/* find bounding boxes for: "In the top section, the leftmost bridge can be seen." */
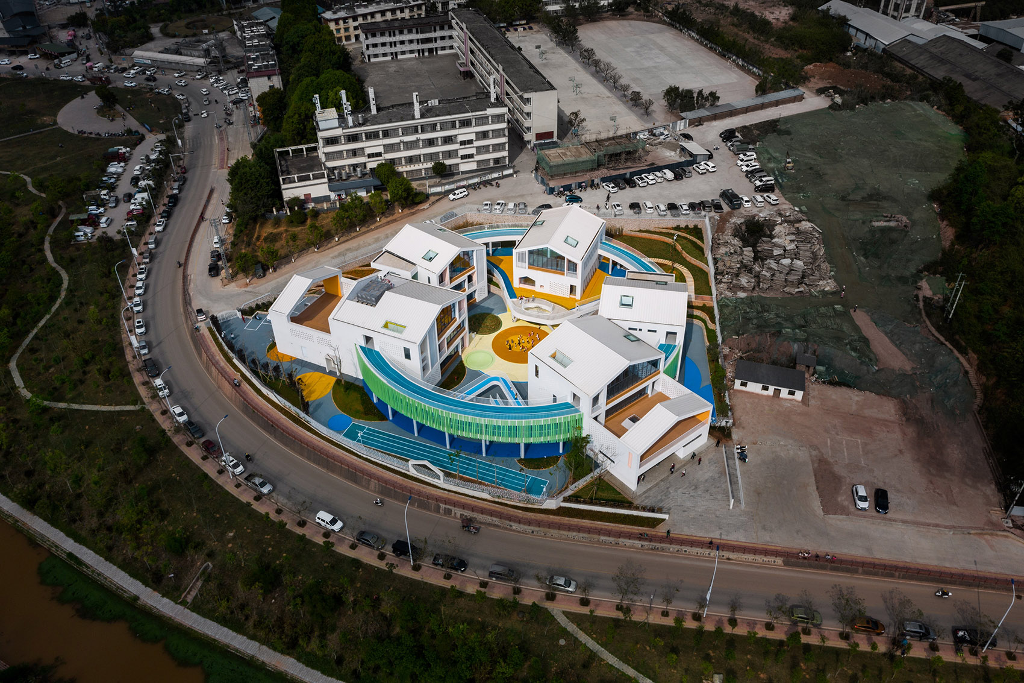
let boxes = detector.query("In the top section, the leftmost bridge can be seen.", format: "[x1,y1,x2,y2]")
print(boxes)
[454,224,532,250]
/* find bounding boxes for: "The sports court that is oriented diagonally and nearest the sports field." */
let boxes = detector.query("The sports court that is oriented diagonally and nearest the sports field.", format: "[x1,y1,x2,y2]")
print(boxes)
[506,27,645,142]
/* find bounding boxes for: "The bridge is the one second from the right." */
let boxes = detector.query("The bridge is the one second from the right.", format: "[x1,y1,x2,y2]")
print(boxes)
[599,237,661,273]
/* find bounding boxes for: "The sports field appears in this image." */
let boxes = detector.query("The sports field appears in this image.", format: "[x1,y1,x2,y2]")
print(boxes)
[578,20,758,113]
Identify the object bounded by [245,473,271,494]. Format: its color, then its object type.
gray car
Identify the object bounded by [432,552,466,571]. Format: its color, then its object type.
black car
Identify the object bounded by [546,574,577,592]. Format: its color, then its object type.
gray car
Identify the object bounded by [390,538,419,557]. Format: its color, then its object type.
black car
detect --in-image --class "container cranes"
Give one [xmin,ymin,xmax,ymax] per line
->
[936,0,987,30]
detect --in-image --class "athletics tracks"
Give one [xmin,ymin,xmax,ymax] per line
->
[342,422,548,497]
